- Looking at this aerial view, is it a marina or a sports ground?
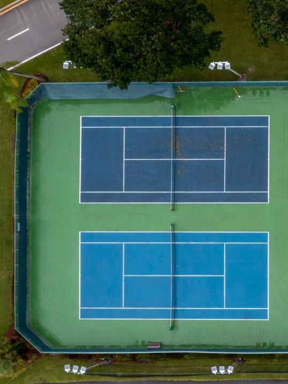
sports ground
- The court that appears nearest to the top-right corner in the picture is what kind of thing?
tennis court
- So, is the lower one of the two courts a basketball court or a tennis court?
tennis court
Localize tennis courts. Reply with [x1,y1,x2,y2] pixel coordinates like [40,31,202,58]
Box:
[80,231,269,319]
[80,116,269,203]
